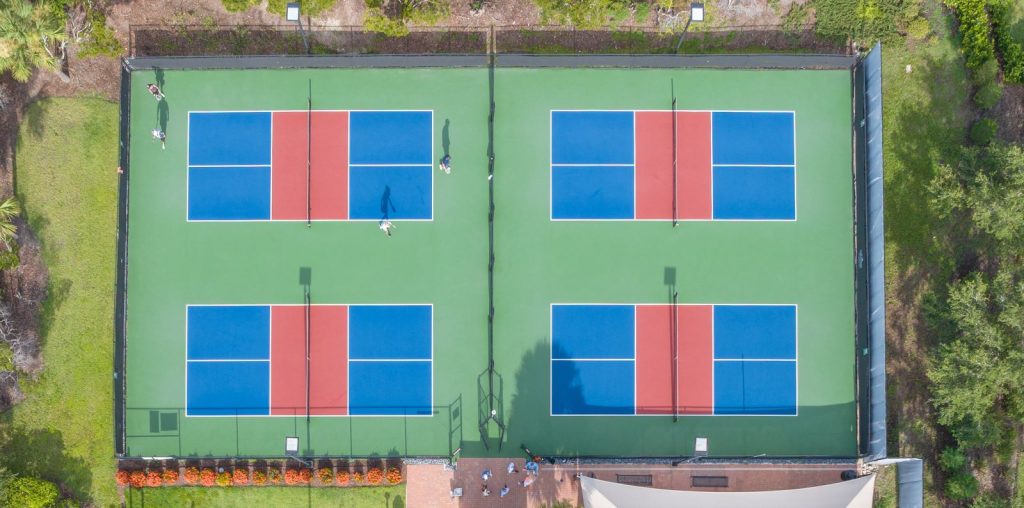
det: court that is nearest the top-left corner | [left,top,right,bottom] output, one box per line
[187,110,433,220]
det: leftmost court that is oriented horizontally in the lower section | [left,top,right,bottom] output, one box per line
[186,304,433,416]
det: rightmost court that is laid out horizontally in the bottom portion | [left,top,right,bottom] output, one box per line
[551,304,798,416]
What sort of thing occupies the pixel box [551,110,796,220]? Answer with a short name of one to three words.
sports court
